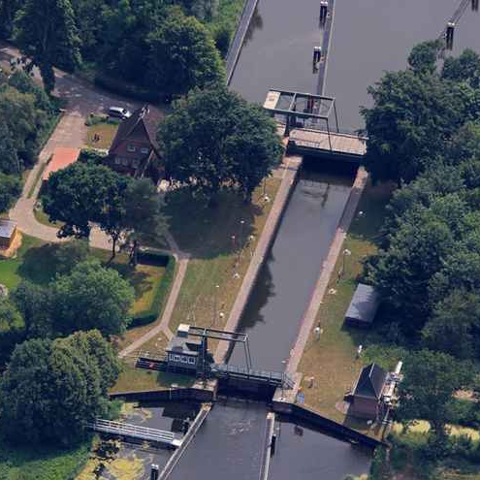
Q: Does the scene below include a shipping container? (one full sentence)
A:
No, no shipping container can be seen from above.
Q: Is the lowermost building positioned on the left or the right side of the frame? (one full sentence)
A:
You can find the lowermost building on the right side of the picture.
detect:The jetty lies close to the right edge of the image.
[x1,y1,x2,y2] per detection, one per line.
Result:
[431,0,475,52]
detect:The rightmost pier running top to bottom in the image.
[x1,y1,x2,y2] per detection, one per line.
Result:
[312,0,335,125]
